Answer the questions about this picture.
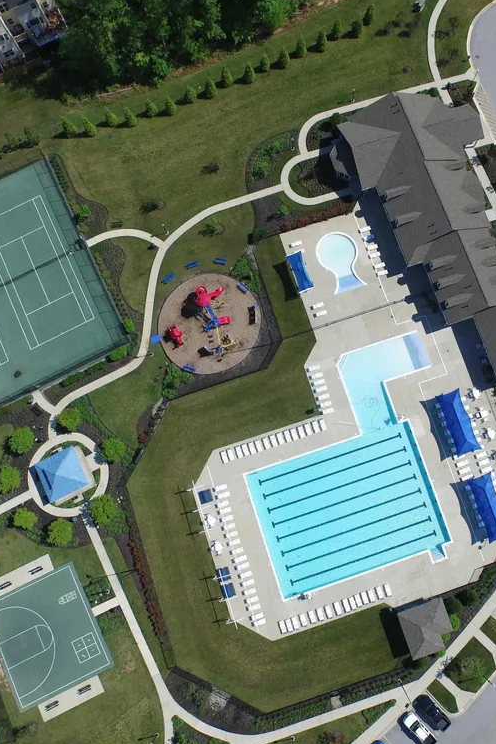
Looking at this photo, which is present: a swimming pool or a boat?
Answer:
swimming pool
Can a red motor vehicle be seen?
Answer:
No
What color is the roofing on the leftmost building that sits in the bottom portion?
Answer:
blue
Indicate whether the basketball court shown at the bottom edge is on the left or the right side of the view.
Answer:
left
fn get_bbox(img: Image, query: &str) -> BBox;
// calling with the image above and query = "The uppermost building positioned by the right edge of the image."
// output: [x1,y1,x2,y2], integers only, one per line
[329,94,496,378]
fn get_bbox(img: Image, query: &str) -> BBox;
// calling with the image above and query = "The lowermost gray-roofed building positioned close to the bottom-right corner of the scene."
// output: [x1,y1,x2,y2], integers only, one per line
[398,597,453,660]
